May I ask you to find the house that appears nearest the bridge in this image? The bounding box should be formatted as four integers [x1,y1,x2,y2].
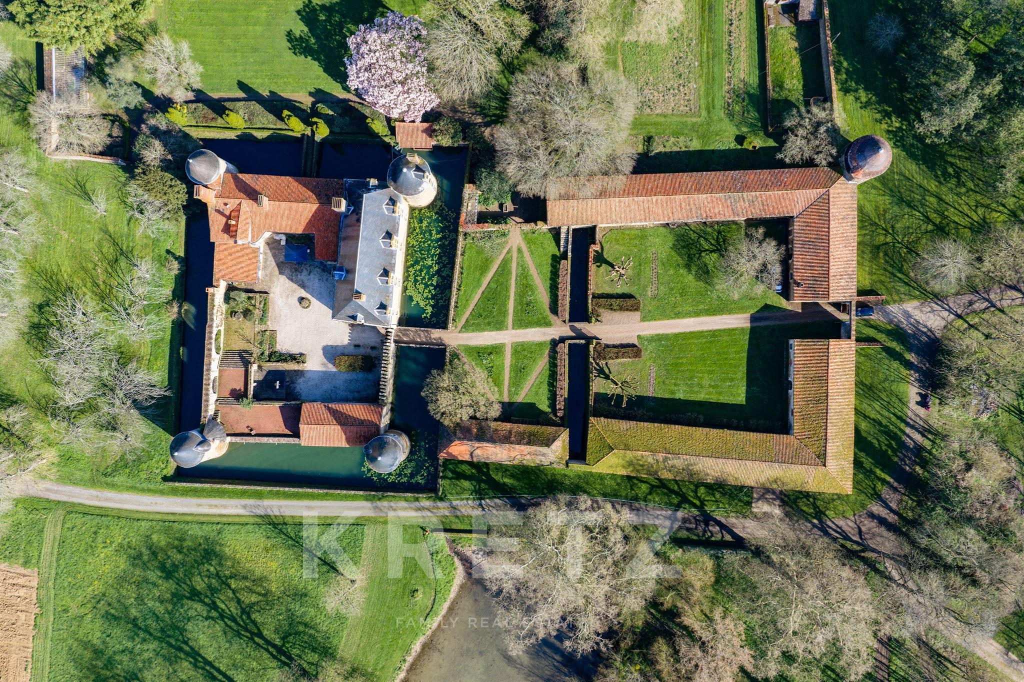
[330,178,410,328]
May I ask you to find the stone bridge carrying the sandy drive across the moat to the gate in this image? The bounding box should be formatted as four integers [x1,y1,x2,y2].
[396,326,448,347]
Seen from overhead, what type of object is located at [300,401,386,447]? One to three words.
barn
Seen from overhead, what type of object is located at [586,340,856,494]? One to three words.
shed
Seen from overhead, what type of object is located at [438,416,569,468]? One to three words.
shed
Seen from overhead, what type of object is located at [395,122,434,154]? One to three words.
building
